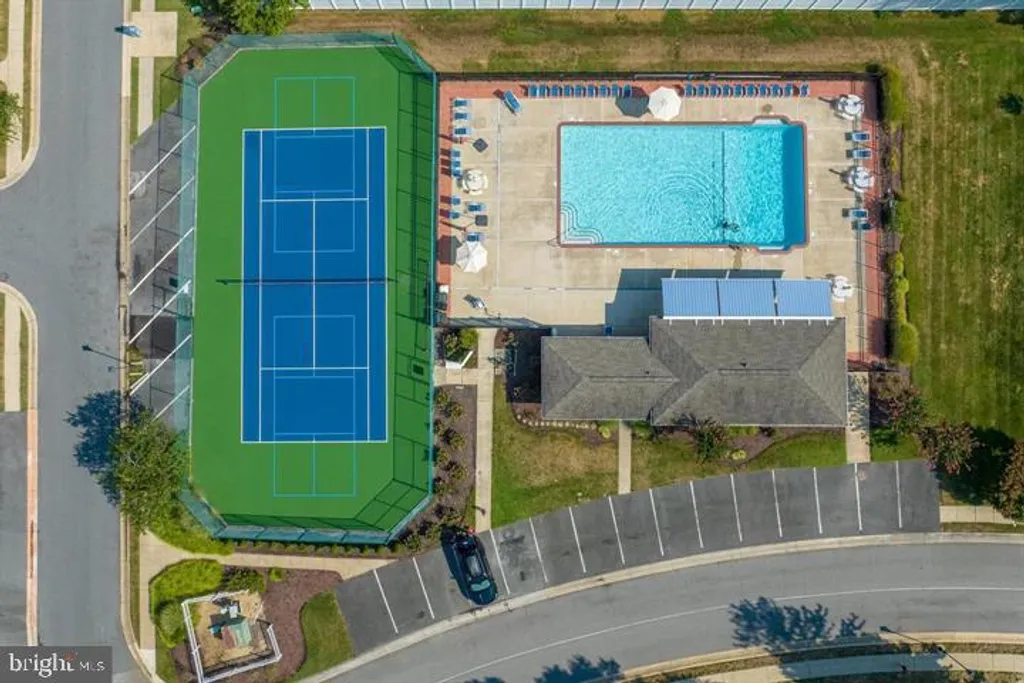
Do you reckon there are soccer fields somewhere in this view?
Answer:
No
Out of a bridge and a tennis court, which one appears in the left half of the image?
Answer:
tennis court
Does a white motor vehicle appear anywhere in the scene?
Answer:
No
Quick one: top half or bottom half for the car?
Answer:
bottom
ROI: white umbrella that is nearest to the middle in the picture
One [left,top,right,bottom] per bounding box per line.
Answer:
[455,240,488,273]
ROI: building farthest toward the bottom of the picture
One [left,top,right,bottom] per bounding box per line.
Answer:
[540,316,847,427]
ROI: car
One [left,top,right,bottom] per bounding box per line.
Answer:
[449,530,491,609]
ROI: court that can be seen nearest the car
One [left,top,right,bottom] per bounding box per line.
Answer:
[190,45,439,534]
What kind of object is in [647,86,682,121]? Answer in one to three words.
umbrella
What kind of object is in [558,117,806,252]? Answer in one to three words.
swimming pool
